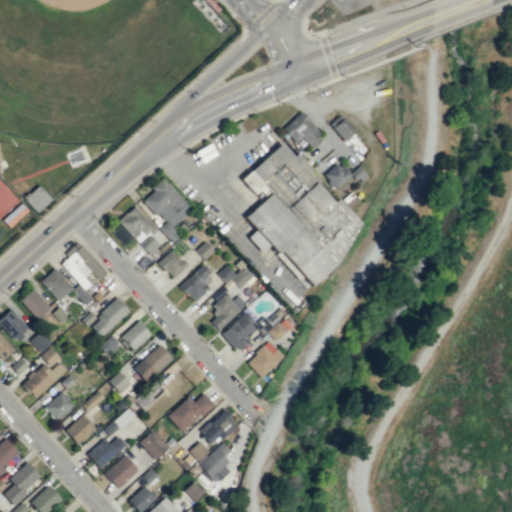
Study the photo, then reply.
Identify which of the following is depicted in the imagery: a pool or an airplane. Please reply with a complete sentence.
Of the two, only a pool appears.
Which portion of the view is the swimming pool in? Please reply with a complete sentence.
You can find the swimming pool in the center area of the picture.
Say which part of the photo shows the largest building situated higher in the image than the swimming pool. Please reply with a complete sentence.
The largest building situated higher in the image than the swimming pool appears toward the center of the photo.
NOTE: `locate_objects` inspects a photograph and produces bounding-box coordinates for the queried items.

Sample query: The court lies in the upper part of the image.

[0,180,20,220]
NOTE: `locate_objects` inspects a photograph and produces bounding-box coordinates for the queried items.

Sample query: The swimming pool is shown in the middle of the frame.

[245,292,280,320]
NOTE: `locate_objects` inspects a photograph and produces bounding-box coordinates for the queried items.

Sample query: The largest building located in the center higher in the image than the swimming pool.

[244,146,364,288]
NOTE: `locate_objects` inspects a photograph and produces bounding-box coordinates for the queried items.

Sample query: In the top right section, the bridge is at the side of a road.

[434,0,496,38]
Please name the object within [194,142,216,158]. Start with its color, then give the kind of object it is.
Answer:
white vehicle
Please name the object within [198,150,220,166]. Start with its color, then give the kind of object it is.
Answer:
white vehicle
